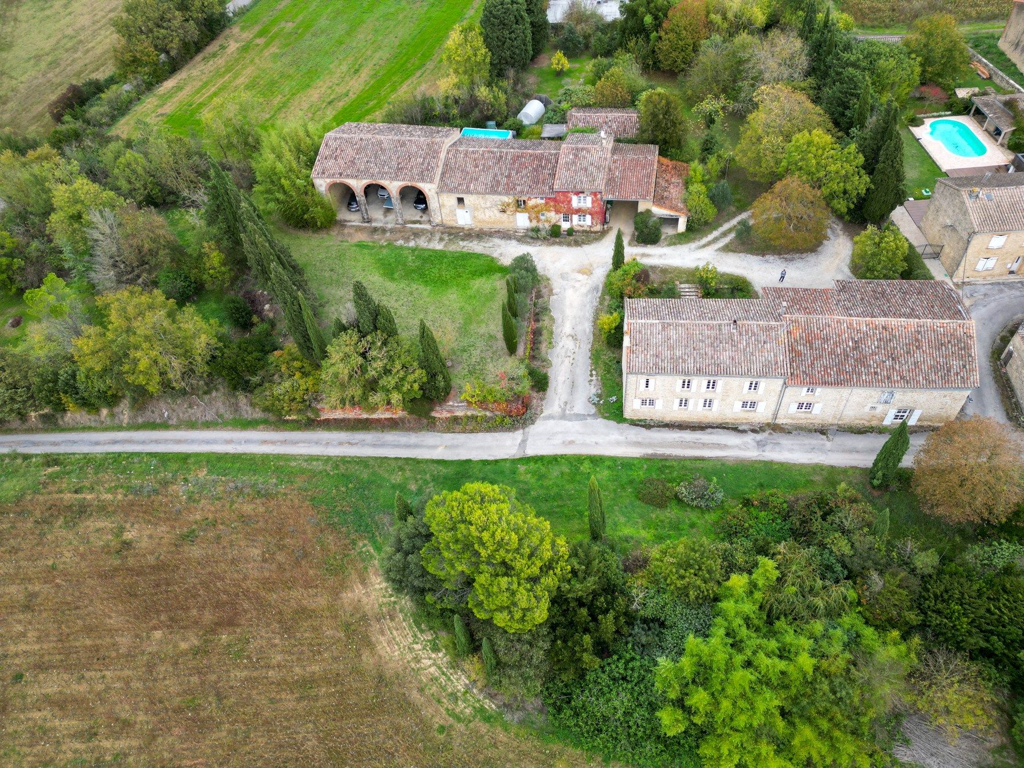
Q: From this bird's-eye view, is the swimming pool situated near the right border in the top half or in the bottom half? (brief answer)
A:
top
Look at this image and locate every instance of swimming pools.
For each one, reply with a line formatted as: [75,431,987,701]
[460,127,515,139]
[928,118,989,159]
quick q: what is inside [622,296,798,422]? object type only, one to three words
house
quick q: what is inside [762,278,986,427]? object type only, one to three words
house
